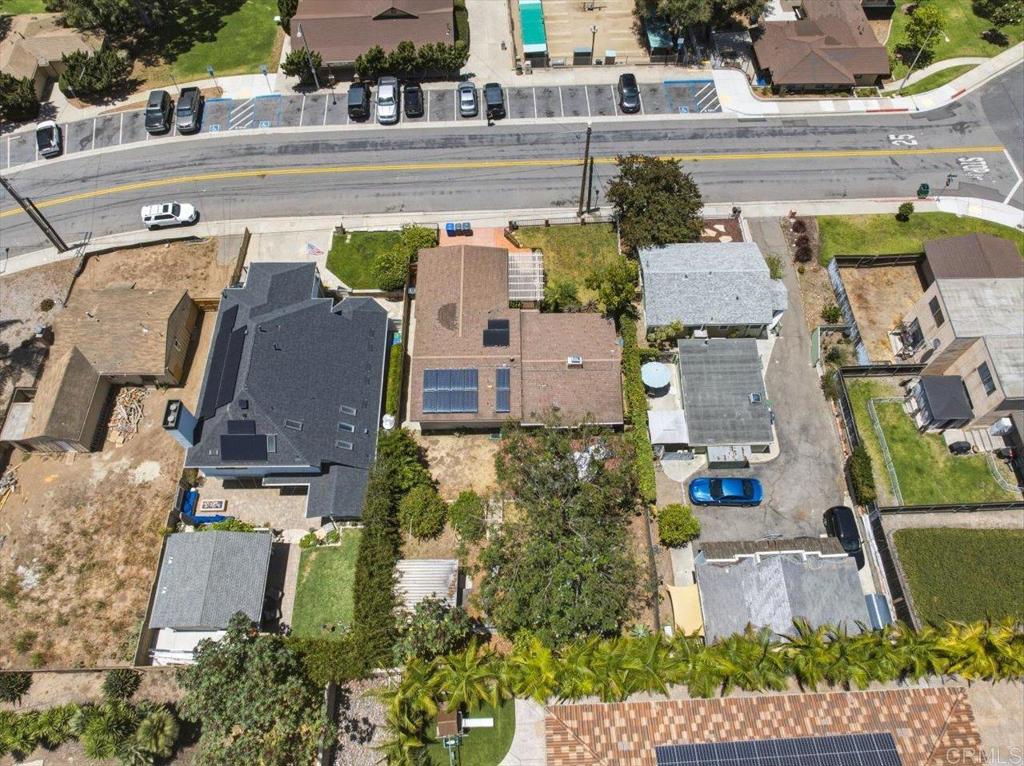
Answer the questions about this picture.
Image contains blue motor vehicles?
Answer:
Yes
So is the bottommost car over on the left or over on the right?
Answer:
right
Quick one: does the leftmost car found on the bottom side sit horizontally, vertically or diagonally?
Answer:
horizontally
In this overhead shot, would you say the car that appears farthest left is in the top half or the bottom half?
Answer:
top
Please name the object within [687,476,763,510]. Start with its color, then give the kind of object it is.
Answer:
blue car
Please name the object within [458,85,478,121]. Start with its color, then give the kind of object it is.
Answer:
gray car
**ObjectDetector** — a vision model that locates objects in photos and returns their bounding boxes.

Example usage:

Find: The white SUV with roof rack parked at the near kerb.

[140,201,199,229]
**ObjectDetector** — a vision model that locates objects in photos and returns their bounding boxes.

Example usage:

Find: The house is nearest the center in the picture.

[410,245,624,435]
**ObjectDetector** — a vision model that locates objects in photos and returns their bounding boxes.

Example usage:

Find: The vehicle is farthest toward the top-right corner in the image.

[616,73,641,114]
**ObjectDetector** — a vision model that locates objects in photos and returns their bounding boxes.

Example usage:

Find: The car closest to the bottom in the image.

[820,501,868,574]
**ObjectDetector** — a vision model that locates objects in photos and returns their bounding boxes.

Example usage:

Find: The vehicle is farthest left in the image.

[36,125,66,160]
